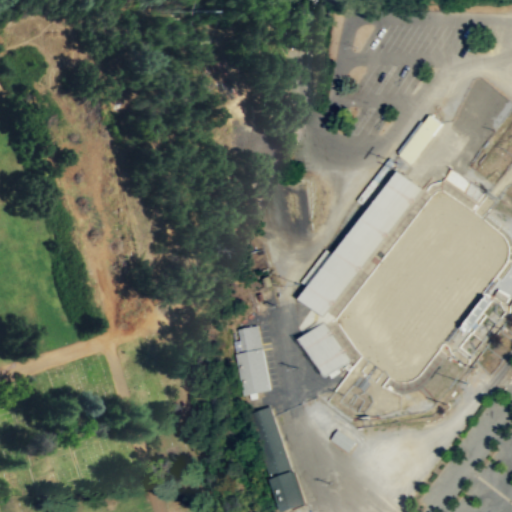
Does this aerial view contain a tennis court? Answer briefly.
No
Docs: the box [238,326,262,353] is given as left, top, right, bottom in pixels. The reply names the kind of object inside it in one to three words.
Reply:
barn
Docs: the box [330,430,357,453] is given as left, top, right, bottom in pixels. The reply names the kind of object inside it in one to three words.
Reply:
shed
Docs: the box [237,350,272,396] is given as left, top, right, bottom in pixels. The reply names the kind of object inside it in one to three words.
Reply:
barn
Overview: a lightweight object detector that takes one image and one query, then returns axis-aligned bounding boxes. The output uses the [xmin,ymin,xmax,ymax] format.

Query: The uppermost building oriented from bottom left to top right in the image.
[400,114,446,164]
